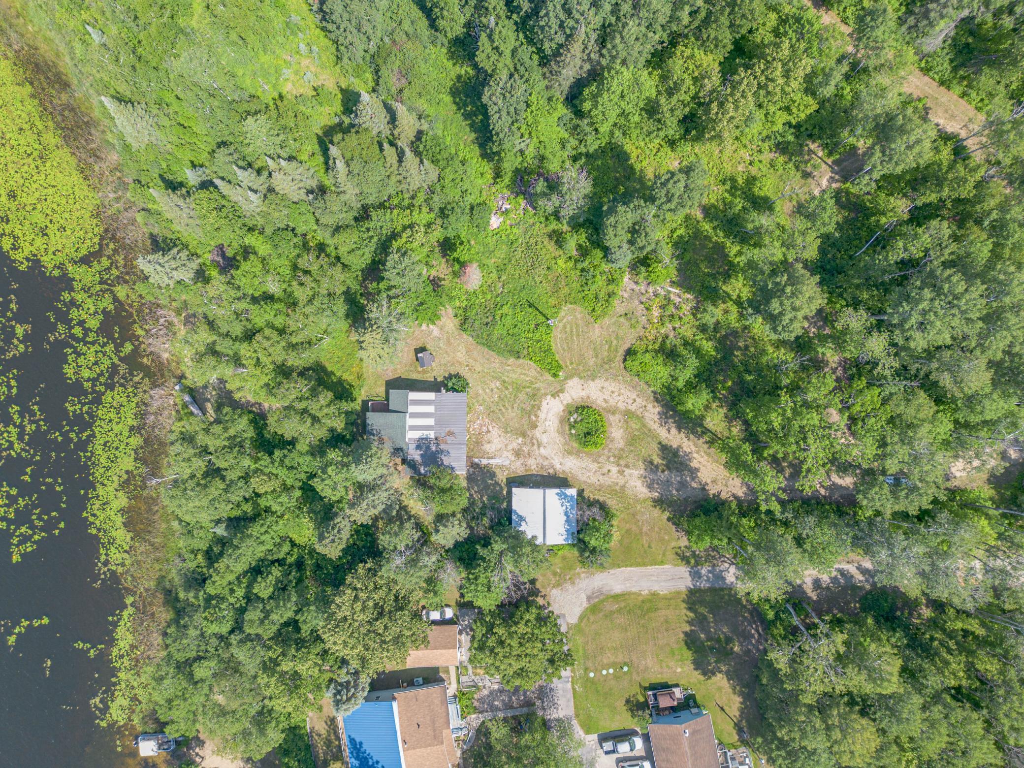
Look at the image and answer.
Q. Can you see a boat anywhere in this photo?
Yes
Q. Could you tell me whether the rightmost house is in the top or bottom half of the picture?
bottom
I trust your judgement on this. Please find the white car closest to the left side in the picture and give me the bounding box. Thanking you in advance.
[422,607,453,623]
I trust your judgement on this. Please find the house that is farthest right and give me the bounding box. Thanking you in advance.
[647,708,720,768]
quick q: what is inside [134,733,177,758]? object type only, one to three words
boat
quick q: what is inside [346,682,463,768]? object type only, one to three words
house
